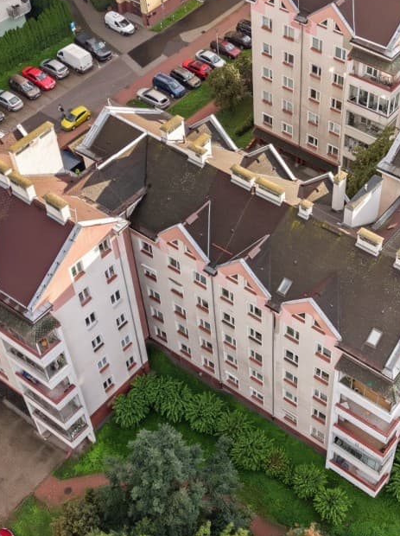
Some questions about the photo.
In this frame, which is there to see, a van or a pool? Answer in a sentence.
Of the two, only a van appears.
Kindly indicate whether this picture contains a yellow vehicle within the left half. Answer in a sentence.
Yes, you'll find a yellow vehicle within the left half.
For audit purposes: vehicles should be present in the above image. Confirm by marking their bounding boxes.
[134,84,171,110]
[76,32,109,59]
[37,55,70,80]
[0,88,25,113]
[221,27,250,52]
[58,102,95,131]
[167,63,203,91]
[102,5,135,34]
[181,56,211,81]
[210,35,242,61]
[192,47,229,71]
[20,65,56,91]
[6,73,43,101]
[151,71,187,99]
[57,41,94,73]
[233,15,250,37]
